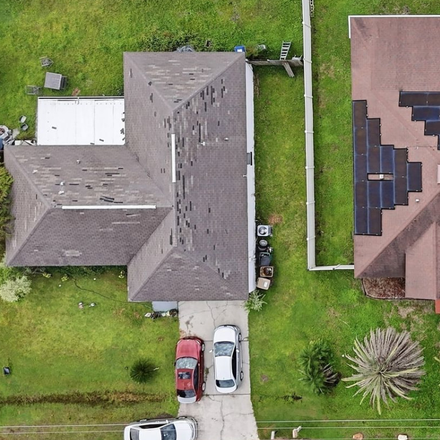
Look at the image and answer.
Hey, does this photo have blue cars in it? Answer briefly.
No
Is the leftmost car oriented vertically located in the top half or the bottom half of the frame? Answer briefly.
bottom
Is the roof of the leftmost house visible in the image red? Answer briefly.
No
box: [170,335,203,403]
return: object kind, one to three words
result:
car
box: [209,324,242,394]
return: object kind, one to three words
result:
car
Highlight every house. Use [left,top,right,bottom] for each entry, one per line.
[348,13,440,301]
[3,51,257,303]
